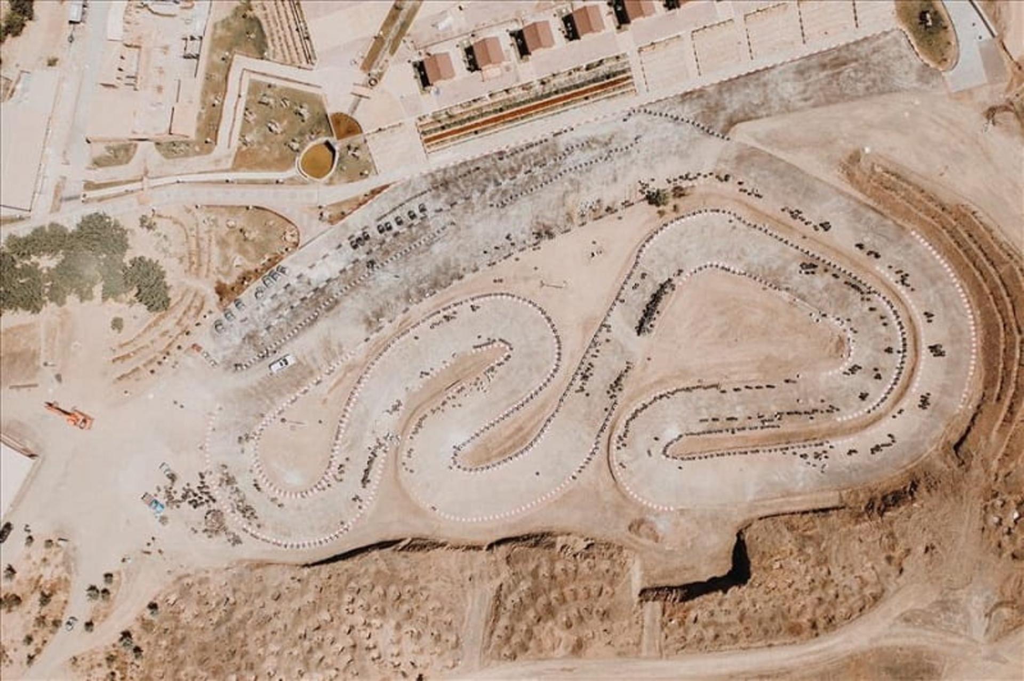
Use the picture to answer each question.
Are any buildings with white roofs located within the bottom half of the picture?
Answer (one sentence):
Yes, looking within the bottom half of the picture, one can make out a building with a white roof.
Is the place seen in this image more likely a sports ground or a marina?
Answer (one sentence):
This image shows a sports ground.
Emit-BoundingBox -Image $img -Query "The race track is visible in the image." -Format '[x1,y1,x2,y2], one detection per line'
[205,29,976,549]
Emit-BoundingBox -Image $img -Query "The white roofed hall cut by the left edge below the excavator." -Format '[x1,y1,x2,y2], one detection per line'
[0,436,43,528]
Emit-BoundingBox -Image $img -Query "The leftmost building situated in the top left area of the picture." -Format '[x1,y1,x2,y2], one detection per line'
[0,69,59,211]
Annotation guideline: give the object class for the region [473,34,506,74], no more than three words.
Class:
house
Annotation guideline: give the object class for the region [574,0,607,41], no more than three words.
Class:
house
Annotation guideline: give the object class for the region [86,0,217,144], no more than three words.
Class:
building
